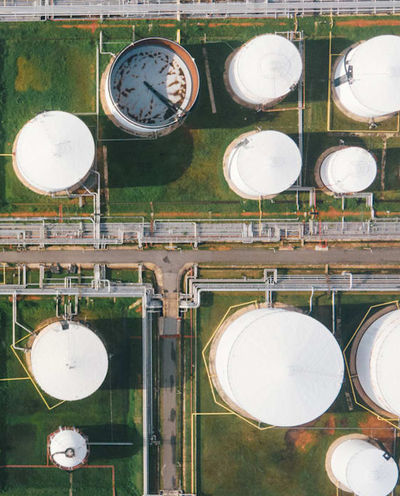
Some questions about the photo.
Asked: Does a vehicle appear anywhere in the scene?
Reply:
No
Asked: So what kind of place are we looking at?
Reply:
industrial area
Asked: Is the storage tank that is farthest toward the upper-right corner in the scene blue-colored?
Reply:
No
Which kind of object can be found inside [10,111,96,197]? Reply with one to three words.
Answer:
storage tank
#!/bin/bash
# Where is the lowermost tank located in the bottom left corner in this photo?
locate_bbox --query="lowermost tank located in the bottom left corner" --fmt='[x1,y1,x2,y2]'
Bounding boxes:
[43,425,91,471]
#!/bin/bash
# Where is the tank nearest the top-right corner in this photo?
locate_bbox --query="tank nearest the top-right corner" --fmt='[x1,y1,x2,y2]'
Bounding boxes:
[330,33,400,121]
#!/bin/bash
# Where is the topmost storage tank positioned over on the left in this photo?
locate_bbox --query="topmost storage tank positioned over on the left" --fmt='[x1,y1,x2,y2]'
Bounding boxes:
[95,34,202,140]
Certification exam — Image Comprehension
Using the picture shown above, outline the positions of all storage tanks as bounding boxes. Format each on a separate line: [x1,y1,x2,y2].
[95,34,202,140]
[43,425,91,471]
[222,128,303,203]
[330,33,400,121]
[314,143,378,200]
[221,31,303,110]
[10,111,96,197]
[209,302,345,428]
[325,435,399,496]
[349,303,400,424]
[22,315,110,401]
